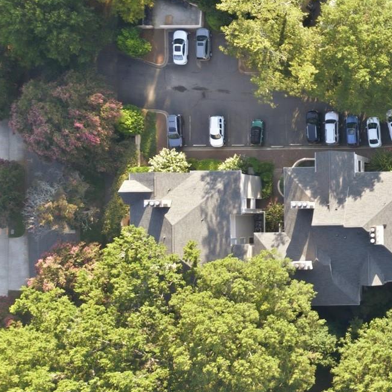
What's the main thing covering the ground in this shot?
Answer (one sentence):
What you mostly see from above here is trees.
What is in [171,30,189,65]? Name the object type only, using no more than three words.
car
